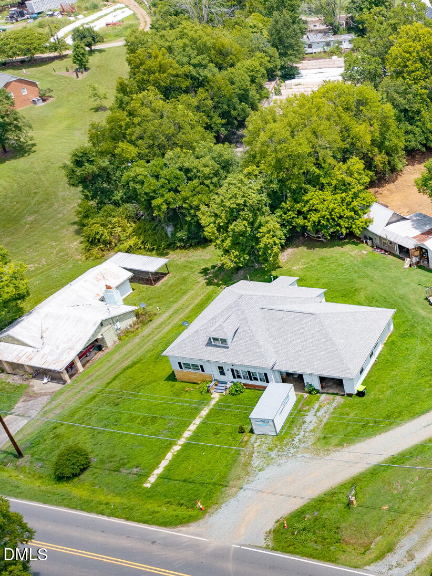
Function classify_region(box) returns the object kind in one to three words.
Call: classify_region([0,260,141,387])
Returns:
house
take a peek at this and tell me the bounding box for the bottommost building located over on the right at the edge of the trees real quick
[162,274,397,399]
